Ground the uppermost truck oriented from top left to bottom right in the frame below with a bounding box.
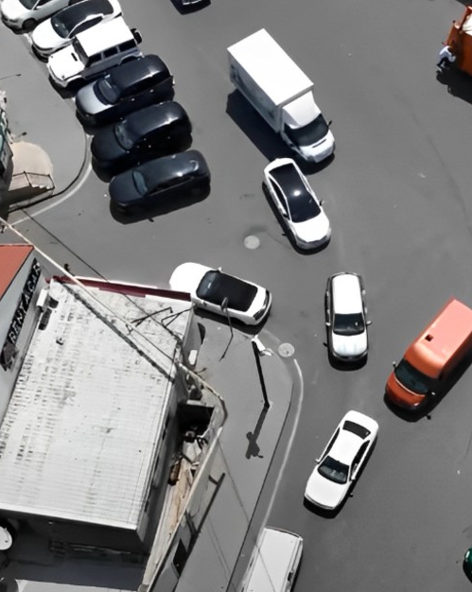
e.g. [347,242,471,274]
[227,28,335,163]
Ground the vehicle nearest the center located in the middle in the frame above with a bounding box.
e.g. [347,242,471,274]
[168,263,270,327]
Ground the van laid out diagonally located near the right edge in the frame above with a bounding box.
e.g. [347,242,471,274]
[387,303,472,417]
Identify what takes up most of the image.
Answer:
paved ground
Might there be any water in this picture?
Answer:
No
